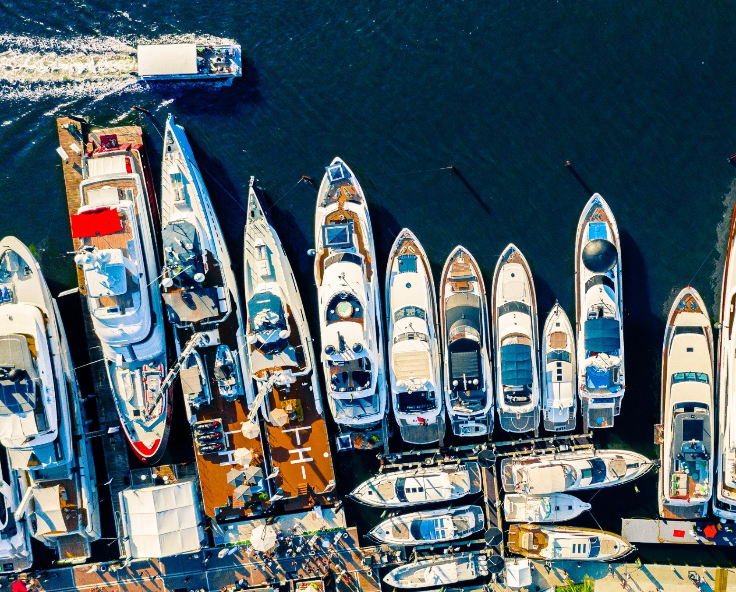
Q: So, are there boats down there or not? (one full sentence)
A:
Yes, this view includes a boat.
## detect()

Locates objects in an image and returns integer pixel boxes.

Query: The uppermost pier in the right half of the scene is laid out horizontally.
[378,432,595,471]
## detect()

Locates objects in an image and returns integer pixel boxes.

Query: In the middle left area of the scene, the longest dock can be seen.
[56,118,131,549]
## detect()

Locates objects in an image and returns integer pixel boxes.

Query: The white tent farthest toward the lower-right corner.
[507,557,532,587]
